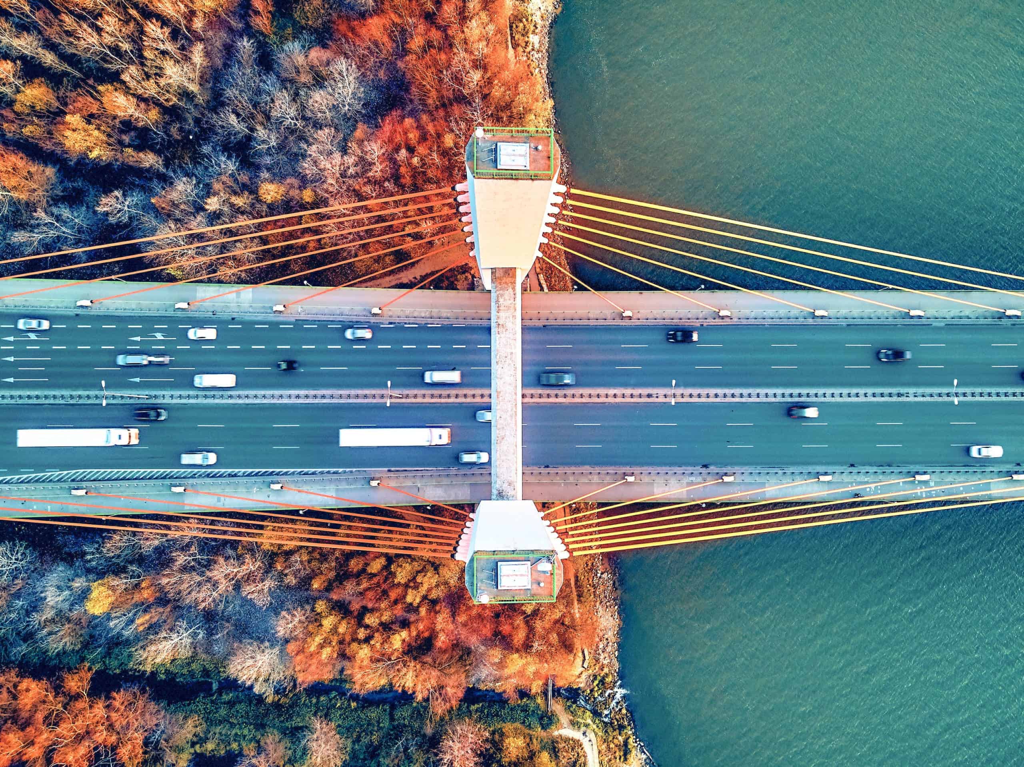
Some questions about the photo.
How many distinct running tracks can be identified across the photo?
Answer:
none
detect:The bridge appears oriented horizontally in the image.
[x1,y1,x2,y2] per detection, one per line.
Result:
[0,128,1024,604]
